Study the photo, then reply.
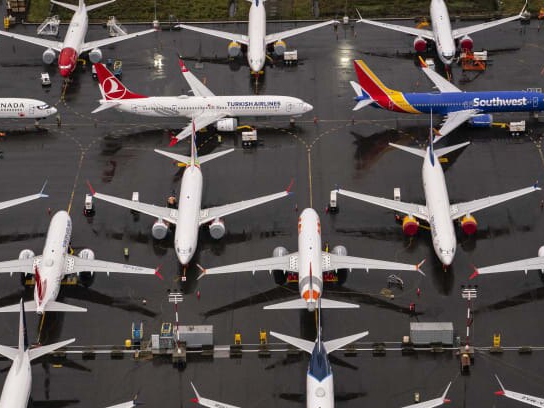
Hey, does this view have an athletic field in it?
No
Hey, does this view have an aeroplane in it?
Yes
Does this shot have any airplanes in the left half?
Yes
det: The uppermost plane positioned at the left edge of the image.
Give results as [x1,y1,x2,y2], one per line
[0,0,163,82]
